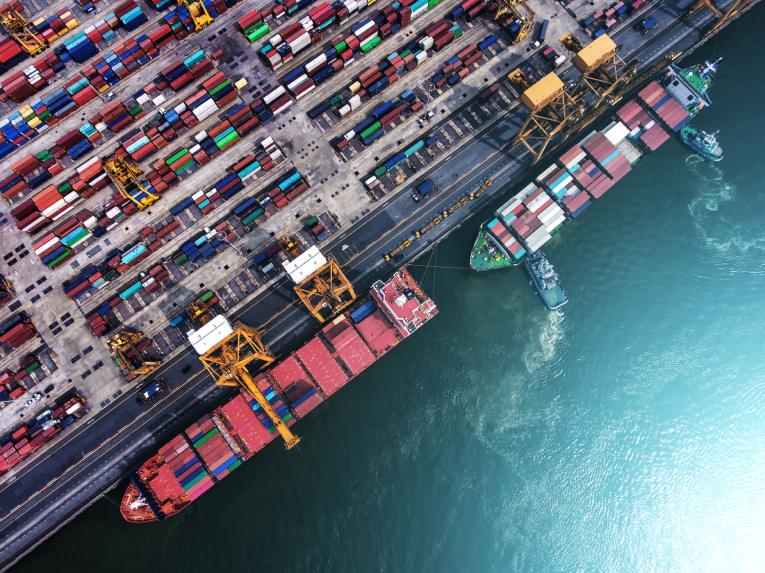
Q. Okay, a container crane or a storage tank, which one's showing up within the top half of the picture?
container crane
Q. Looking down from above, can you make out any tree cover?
No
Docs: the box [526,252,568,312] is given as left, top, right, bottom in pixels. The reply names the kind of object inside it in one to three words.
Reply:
boat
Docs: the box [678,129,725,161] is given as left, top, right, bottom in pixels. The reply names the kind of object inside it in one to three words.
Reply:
boat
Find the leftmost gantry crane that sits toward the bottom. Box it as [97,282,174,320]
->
[111,326,171,376]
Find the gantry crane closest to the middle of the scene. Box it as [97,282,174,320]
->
[279,245,357,326]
